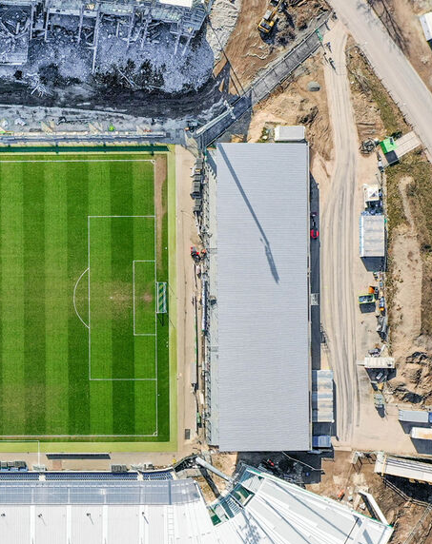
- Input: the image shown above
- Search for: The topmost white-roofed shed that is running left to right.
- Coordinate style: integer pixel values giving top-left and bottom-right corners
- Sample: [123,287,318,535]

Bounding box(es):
[269,126,306,143]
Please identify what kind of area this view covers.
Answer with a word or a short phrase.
sports ground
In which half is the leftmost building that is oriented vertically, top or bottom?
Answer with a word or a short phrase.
bottom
